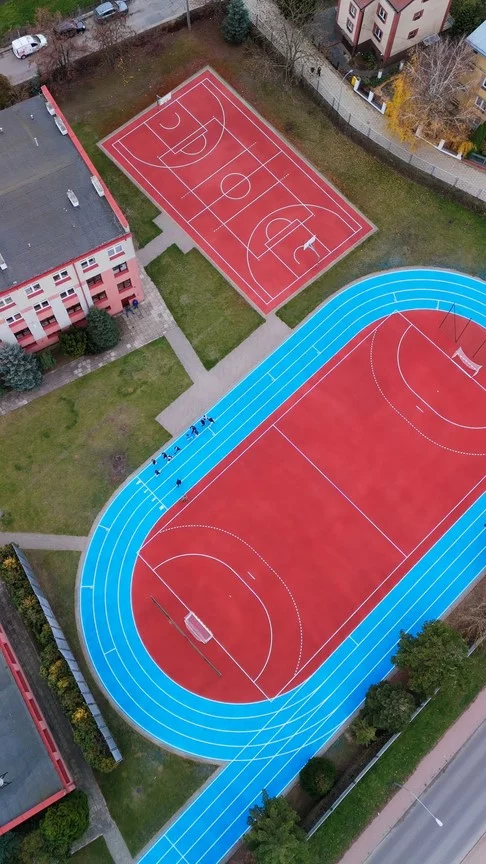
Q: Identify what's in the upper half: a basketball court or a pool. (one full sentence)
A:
What appears in the upper half is a basketball court.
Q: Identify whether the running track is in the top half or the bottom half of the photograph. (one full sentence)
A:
The bottom half of the photo is where the running track is.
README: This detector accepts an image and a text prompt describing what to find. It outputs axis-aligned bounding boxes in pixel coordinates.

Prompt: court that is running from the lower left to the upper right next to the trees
[130,310,486,705]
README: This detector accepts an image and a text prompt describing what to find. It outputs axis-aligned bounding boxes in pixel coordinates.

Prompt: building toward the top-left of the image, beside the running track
[0,82,144,359]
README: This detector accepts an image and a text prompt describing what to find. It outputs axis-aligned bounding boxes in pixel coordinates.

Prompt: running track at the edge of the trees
[73,264,486,864]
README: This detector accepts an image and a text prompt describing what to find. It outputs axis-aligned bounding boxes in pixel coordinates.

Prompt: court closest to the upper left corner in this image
[97,67,379,320]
